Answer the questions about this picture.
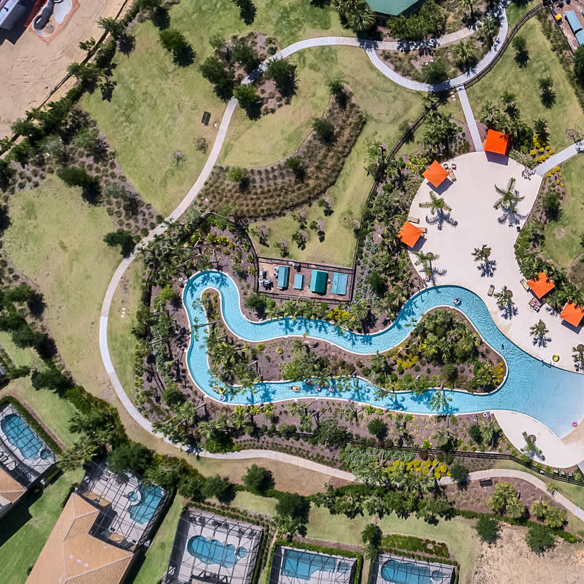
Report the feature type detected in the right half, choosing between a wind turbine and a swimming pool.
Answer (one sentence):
You can see a swimming pool in the right half.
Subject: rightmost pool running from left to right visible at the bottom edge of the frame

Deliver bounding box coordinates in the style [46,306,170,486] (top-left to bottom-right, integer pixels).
[379,560,433,584]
